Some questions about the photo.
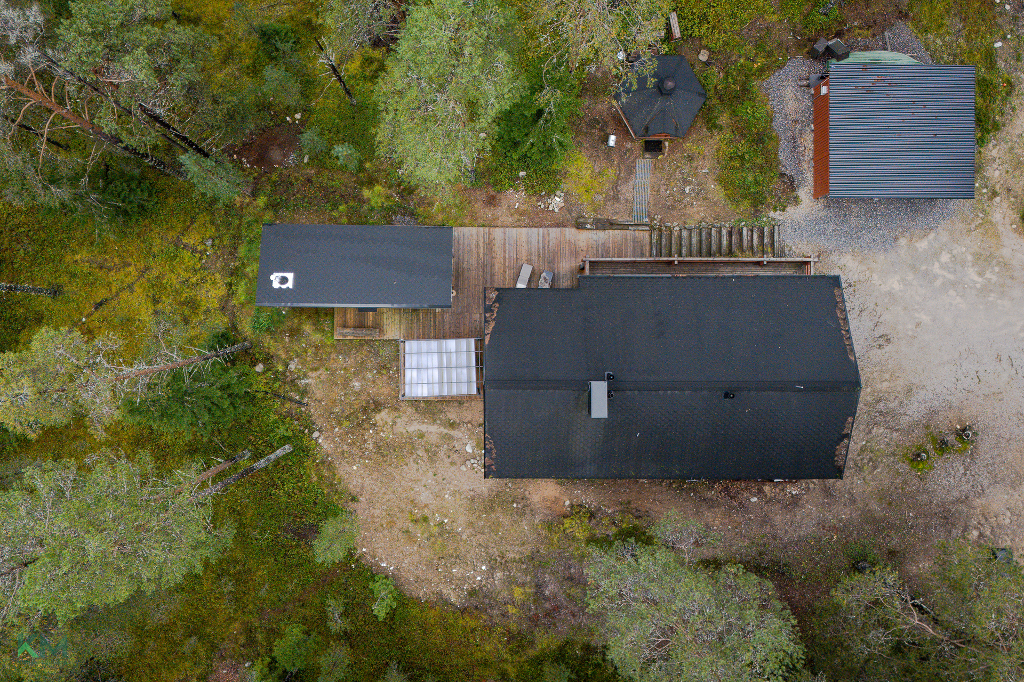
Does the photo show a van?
No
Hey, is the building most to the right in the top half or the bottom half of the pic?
top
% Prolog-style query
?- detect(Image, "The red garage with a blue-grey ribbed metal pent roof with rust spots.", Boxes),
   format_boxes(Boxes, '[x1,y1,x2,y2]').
[813,62,976,200]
